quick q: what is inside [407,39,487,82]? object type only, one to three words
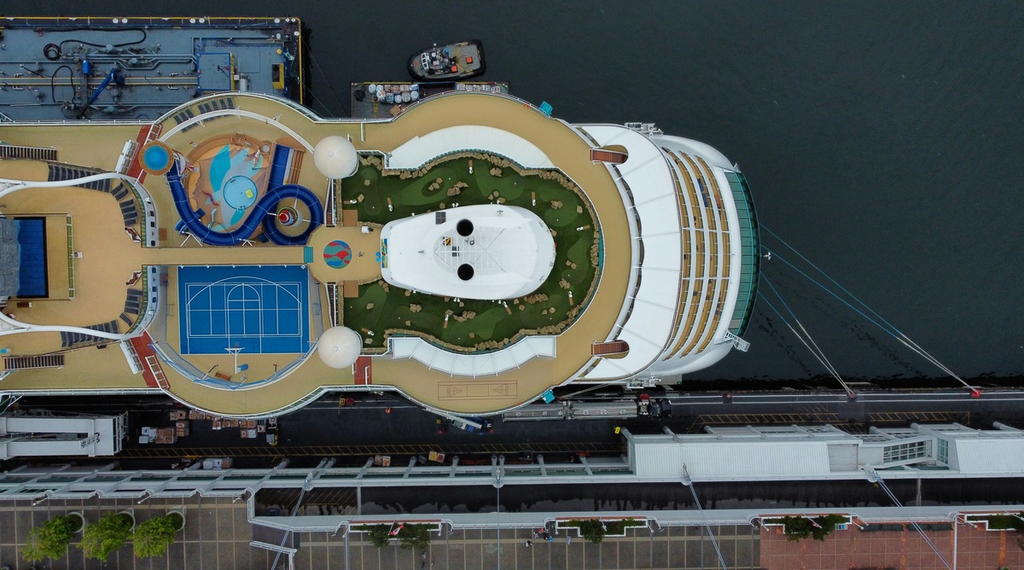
boat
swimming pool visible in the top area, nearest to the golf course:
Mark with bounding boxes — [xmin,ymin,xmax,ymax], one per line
[184,133,268,243]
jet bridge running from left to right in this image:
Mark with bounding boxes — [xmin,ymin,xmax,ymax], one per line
[0,407,140,460]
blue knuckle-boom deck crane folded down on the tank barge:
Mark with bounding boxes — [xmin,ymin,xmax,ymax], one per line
[77,68,123,118]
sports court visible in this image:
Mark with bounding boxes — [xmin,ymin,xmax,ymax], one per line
[178,266,309,377]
